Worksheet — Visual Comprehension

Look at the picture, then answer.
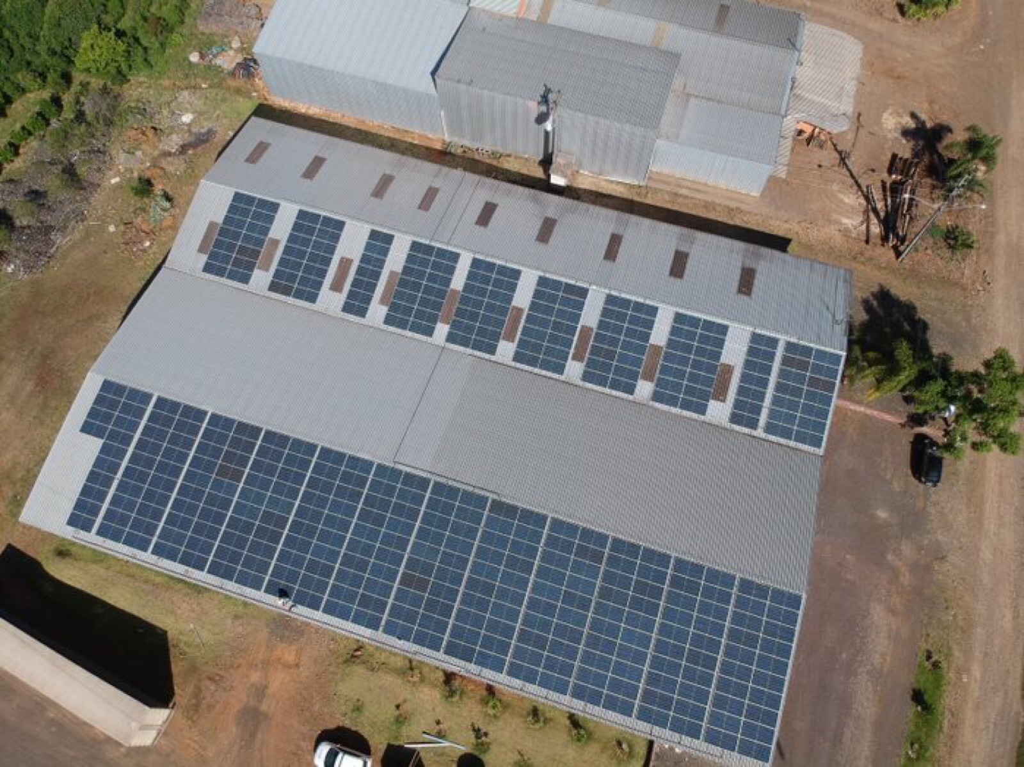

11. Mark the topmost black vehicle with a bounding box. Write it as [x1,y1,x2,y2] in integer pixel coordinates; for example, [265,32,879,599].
[911,436,945,489]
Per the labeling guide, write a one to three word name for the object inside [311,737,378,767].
car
